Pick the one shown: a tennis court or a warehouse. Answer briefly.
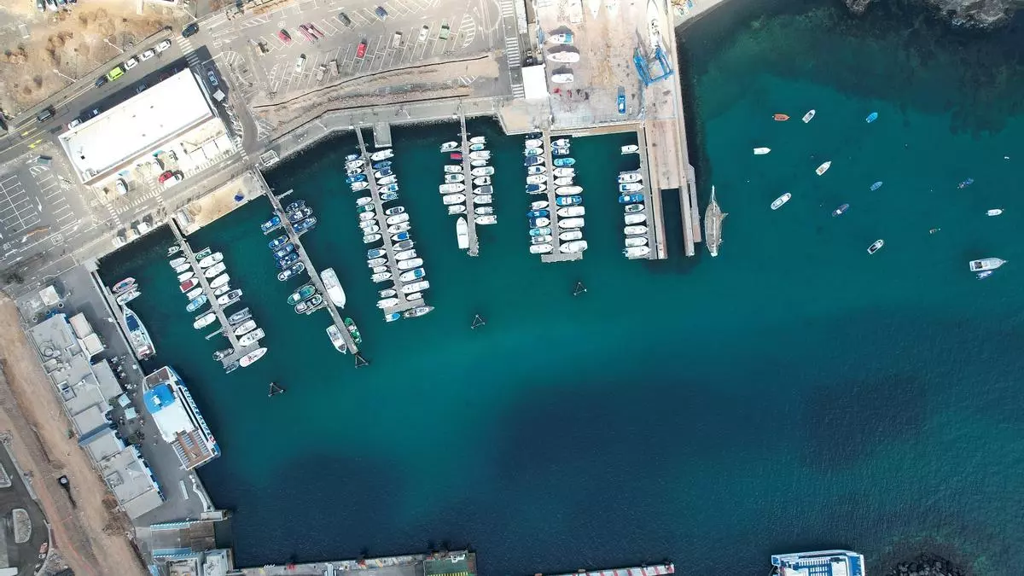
warehouse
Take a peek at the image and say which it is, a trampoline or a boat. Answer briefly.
boat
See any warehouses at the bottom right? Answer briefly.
No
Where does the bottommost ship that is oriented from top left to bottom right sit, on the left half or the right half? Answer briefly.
left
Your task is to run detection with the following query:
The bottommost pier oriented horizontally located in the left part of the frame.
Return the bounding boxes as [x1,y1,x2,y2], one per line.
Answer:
[236,546,476,576]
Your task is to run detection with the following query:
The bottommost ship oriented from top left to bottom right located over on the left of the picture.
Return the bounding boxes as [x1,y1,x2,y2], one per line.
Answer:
[142,365,223,465]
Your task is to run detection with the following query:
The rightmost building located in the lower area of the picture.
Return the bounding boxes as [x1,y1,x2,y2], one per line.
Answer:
[202,542,236,576]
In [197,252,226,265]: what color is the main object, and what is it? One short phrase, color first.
white boat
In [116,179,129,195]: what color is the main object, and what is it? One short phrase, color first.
white vehicle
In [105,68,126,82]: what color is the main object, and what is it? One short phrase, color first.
green vehicle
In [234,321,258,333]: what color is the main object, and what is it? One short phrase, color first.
white boat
